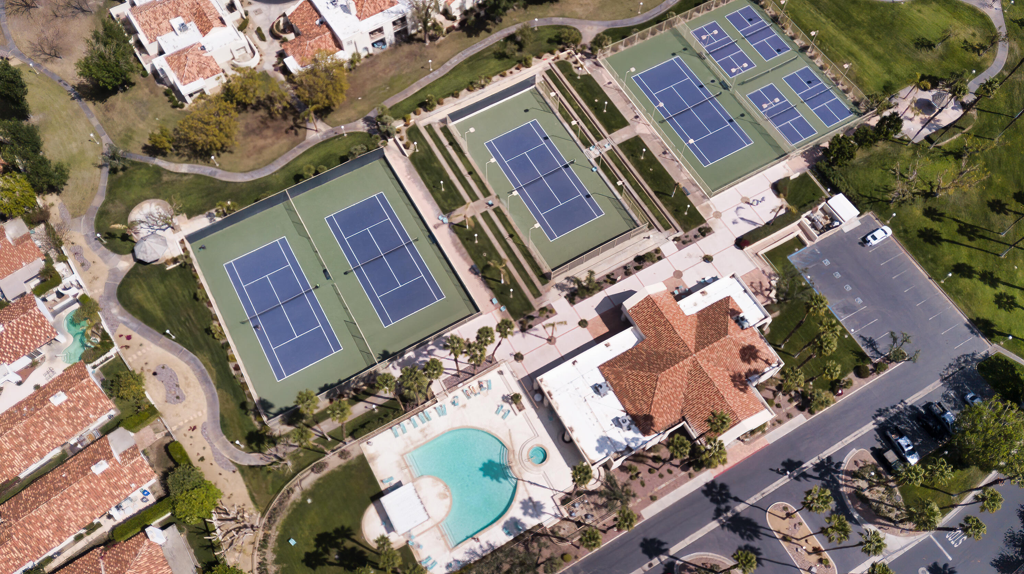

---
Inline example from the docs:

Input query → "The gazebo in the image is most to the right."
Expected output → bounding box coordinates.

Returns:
[926,92,955,117]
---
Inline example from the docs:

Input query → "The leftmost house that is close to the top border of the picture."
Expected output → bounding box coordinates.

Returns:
[110,0,261,107]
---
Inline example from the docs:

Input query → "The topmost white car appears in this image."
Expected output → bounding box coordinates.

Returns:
[866,227,894,244]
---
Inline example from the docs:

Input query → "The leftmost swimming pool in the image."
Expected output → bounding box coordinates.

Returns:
[59,307,91,365]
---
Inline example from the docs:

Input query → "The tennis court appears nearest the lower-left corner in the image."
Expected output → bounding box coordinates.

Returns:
[190,198,374,416]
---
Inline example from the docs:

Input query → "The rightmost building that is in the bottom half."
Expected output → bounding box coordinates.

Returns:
[535,262,785,475]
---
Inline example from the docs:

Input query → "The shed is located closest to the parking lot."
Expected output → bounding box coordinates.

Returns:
[827,193,861,232]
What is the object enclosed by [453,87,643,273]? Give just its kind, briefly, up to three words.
tennis court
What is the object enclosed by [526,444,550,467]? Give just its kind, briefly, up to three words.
swimming pool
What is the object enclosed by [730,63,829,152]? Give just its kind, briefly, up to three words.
sports court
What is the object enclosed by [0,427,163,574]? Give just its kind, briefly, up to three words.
house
